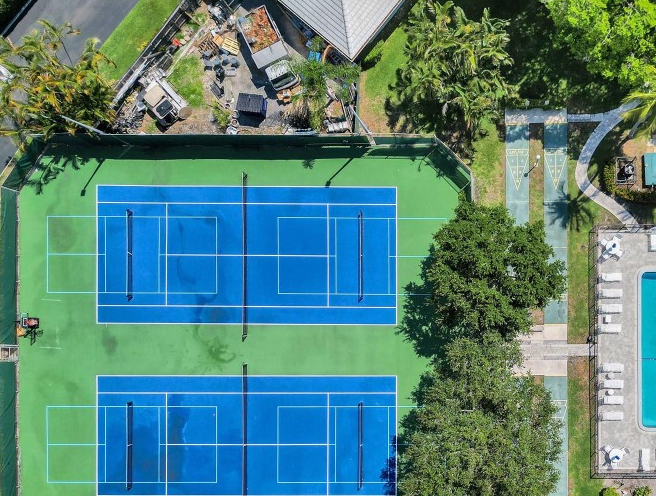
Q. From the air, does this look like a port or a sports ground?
sports ground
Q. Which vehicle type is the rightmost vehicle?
truck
